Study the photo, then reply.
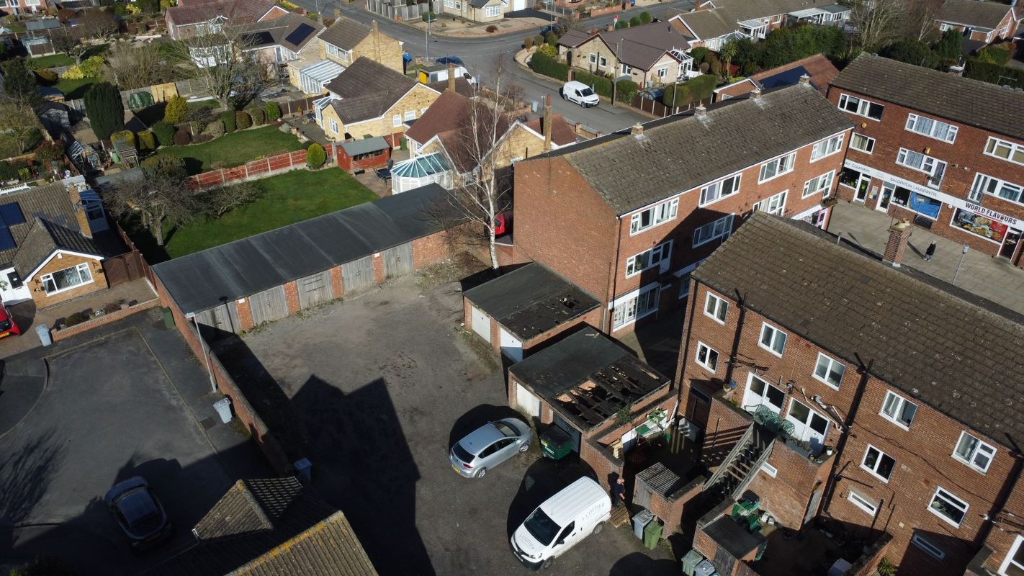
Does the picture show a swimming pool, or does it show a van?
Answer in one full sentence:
Visible in the photo is a van.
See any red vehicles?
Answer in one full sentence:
Yes, the photo shows a red vehicle.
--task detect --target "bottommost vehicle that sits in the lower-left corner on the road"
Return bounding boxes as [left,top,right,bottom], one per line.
[107,475,172,547]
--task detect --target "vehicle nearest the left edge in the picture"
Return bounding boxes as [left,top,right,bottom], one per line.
[0,310,22,348]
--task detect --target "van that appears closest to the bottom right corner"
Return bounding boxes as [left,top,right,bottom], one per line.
[509,481,612,568]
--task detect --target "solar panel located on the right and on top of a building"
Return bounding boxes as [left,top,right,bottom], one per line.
[763,65,828,91]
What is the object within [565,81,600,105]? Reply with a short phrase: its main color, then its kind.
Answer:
white vehicle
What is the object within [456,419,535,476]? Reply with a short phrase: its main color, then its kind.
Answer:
gray car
